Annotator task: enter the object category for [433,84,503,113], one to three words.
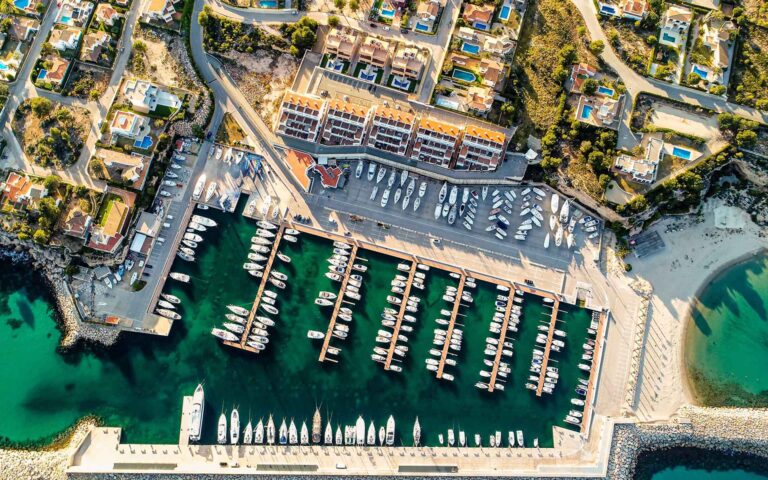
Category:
house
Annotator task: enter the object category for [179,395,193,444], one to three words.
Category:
pier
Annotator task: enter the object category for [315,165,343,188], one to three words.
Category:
building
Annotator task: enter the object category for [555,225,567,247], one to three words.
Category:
boat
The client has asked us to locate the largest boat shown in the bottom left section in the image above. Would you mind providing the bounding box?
[188,375,204,442]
